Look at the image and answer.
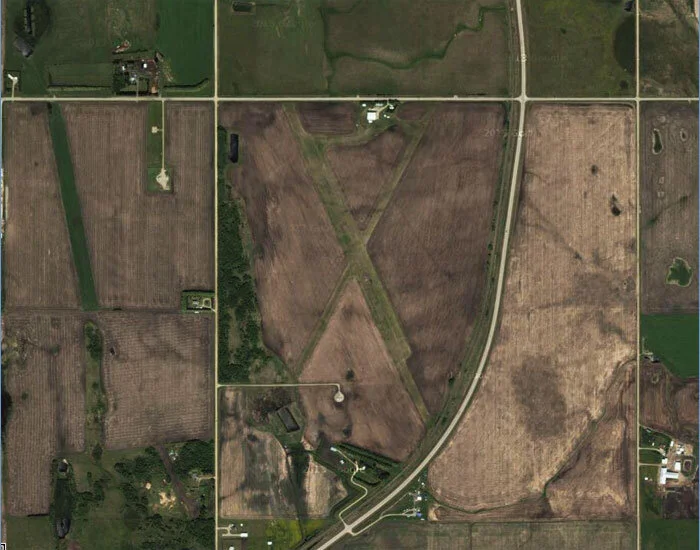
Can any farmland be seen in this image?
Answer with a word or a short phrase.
Yes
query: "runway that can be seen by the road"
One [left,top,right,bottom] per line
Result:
[282,102,435,426]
